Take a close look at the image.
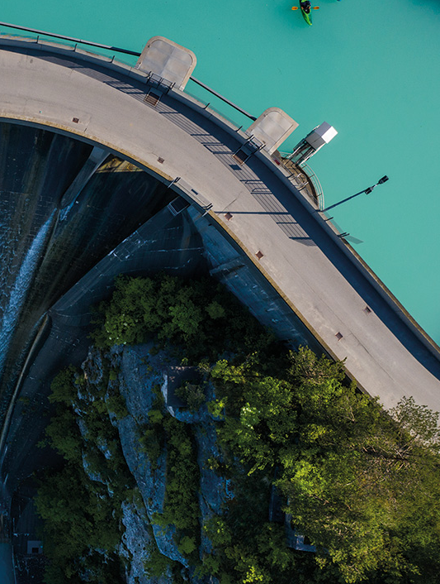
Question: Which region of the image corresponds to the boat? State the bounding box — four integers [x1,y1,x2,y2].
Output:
[301,0,314,24]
